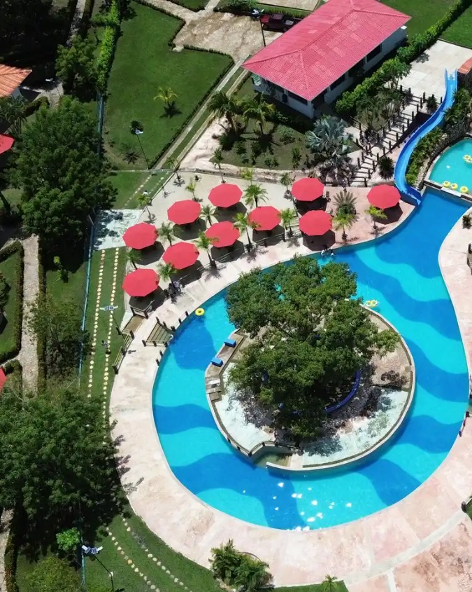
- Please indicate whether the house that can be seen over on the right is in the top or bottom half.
top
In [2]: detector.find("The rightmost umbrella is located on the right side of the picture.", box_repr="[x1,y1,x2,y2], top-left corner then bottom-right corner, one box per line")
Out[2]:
[367,185,401,210]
